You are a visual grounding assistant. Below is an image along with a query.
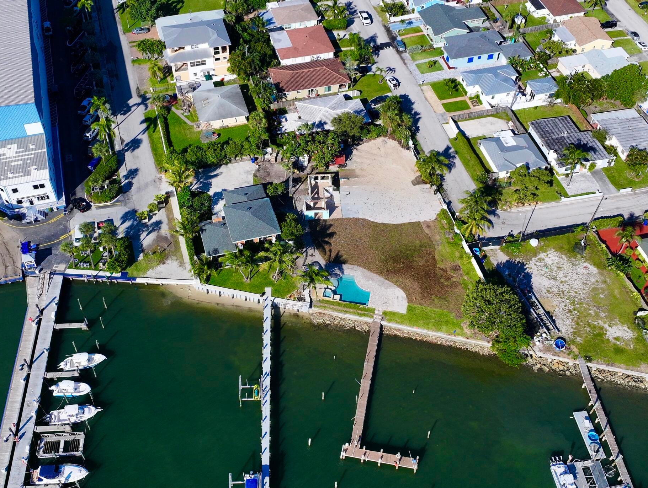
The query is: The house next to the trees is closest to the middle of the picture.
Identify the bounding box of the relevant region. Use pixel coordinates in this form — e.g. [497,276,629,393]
[199,185,281,262]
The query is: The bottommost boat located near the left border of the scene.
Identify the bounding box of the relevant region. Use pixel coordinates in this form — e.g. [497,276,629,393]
[26,463,91,487]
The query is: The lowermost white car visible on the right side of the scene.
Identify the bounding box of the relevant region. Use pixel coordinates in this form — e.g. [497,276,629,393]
[385,74,401,88]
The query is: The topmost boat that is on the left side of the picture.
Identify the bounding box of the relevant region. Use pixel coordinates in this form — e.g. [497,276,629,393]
[58,352,108,372]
